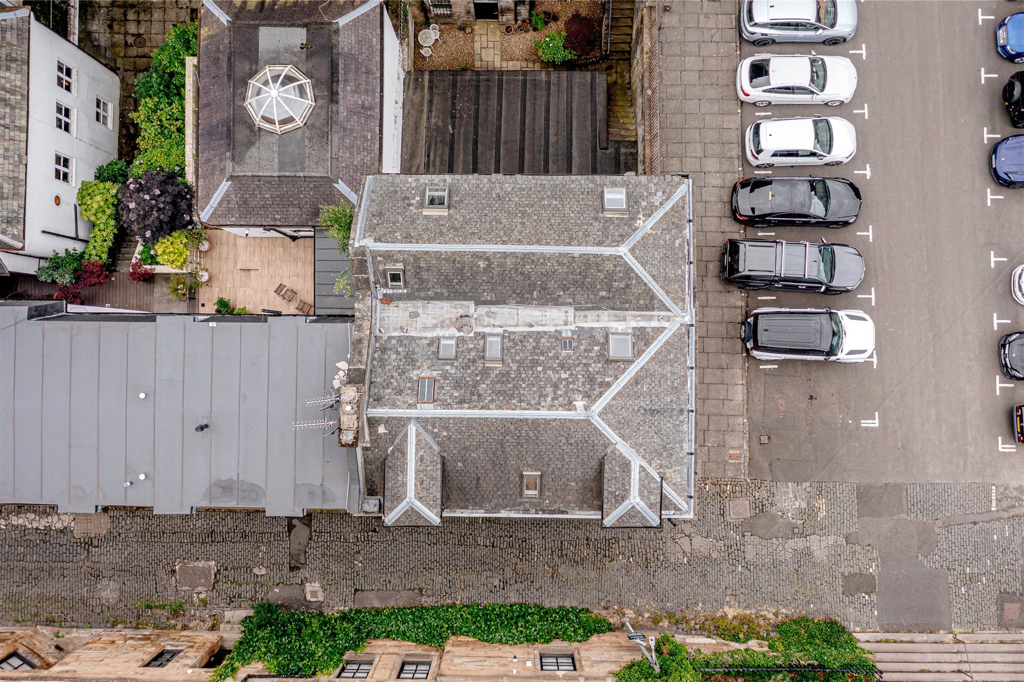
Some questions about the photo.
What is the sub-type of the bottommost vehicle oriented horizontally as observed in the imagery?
car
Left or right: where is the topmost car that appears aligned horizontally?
right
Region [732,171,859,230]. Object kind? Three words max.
car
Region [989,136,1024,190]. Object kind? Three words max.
car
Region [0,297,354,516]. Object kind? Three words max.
building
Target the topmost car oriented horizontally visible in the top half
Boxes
[739,0,857,50]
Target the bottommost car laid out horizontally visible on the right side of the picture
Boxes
[741,302,877,366]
